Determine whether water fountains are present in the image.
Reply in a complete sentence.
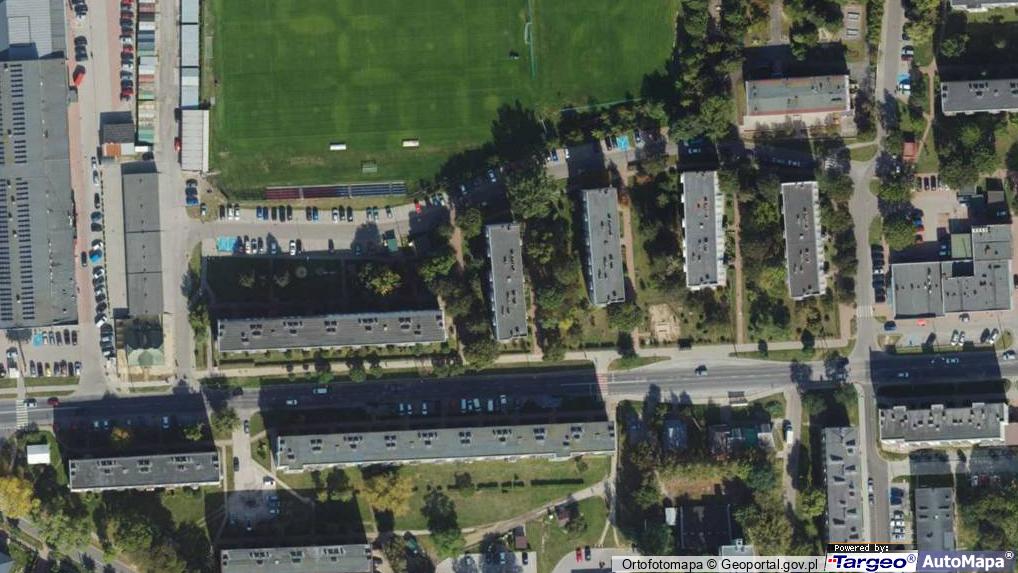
No, there's no water fountain here.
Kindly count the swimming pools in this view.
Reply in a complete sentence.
No swimming pools are visible.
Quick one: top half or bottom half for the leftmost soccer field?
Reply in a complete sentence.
The top half of the photo is where the leftmost soccer field is.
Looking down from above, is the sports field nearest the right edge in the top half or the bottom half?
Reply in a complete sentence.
It is in the top half that the sports field nearest the right edge appears.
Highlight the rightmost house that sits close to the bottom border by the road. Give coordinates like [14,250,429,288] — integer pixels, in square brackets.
[912,488,953,573]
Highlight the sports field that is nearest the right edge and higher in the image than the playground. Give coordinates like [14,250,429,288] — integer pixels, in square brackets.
[533,0,683,147]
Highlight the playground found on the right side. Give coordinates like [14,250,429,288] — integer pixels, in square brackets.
[650,301,678,341]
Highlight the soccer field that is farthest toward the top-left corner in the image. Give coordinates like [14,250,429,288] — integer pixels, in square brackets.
[209,0,535,196]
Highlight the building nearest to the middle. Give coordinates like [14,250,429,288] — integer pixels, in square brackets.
[487,223,531,342]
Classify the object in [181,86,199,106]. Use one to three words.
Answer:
shed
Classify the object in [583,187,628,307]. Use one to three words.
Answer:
building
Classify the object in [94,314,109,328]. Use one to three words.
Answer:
vehicle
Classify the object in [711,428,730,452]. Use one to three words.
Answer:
house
